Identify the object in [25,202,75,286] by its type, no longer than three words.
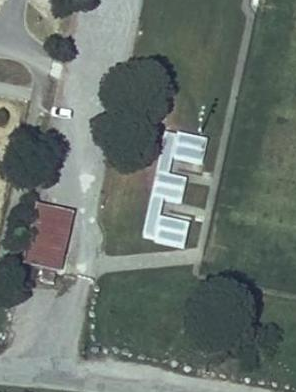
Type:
building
